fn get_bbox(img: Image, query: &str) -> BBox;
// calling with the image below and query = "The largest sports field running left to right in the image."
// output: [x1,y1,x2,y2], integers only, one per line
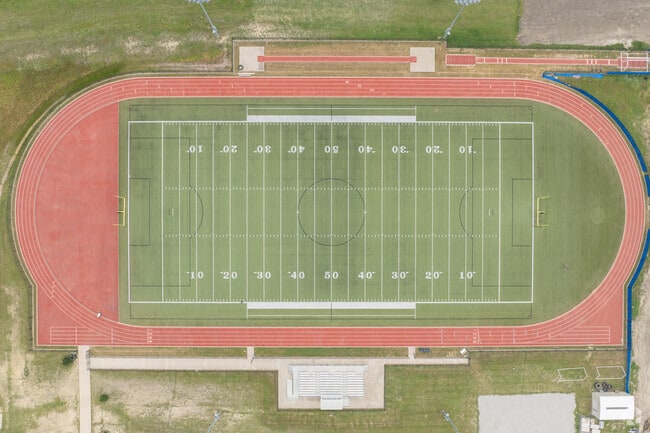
[119,98,625,326]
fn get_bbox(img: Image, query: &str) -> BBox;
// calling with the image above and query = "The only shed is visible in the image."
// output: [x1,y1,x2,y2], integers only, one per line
[592,392,636,420]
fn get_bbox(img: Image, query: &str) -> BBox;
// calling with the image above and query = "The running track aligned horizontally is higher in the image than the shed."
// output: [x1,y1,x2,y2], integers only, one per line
[15,77,645,347]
